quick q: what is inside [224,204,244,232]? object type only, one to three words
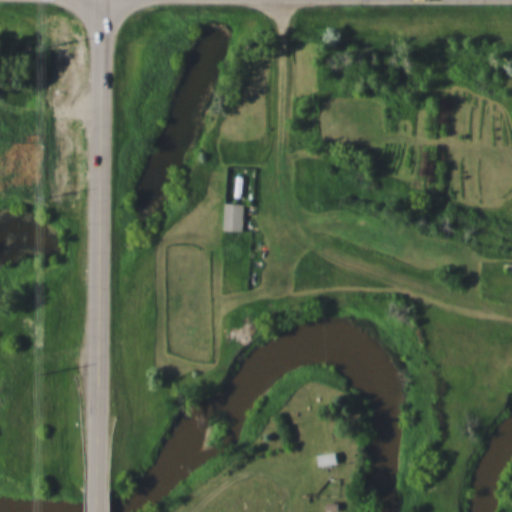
barn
